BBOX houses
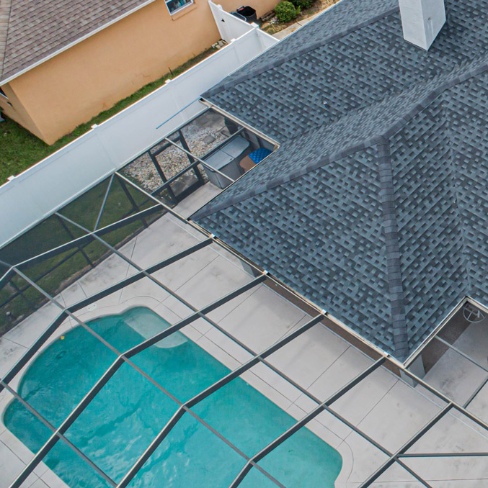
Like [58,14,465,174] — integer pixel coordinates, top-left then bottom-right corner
[183,0,488,386]
[0,0,280,143]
